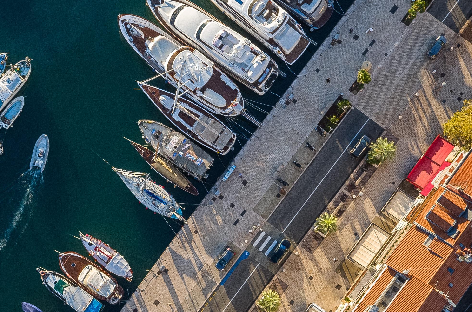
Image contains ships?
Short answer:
Yes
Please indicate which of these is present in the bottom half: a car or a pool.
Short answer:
car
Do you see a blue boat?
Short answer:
Yes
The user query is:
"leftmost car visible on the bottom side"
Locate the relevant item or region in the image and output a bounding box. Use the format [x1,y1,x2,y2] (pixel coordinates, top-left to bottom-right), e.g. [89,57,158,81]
[214,245,236,271]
